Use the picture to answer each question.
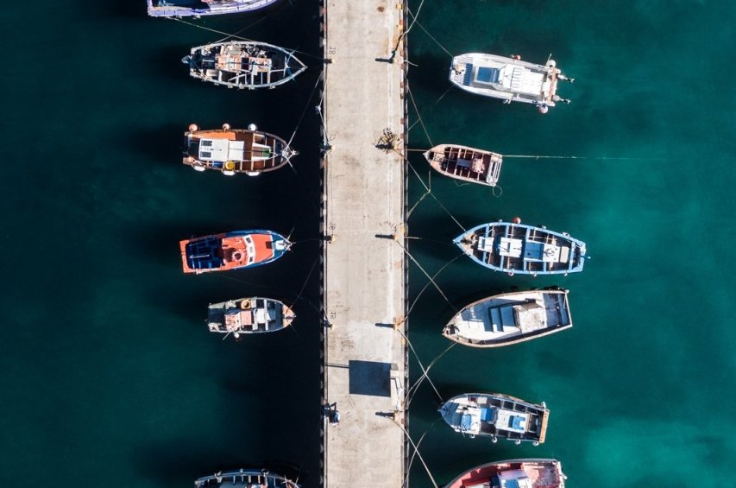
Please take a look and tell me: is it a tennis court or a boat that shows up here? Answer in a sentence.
It is a boat that can be seen here.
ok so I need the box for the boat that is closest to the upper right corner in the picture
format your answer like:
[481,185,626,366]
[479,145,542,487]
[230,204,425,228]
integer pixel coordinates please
[449,53,575,112]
